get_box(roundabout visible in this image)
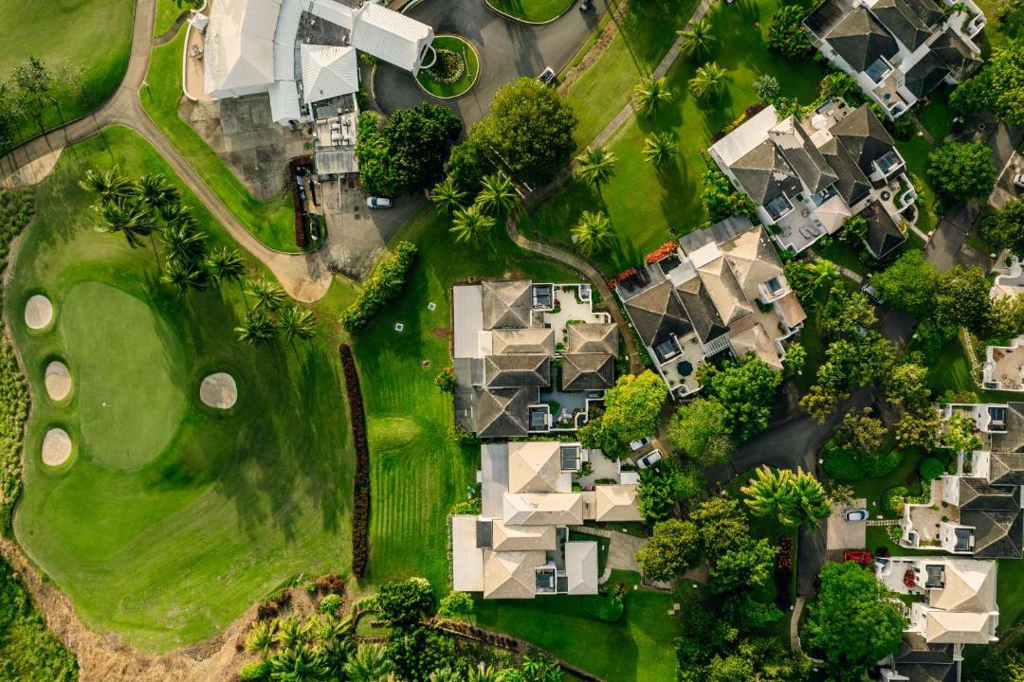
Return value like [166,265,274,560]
[395,14,499,116]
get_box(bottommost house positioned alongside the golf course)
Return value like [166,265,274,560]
[452,440,645,599]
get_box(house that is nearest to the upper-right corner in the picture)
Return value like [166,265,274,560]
[806,0,988,125]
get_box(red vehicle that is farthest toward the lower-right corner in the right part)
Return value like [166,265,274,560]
[843,550,869,563]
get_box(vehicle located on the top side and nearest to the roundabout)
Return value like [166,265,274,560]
[545,66,558,79]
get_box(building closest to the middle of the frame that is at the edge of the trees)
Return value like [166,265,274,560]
[453,280,619,438]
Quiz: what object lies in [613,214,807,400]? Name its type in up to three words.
house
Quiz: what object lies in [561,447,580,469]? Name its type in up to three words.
solar panel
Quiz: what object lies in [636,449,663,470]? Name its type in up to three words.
car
